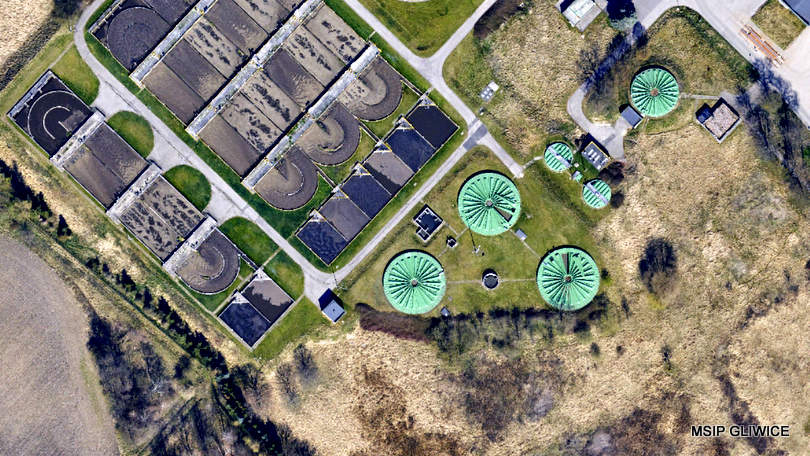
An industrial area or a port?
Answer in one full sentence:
The area seen from above is an industrial area.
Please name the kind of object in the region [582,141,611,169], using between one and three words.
building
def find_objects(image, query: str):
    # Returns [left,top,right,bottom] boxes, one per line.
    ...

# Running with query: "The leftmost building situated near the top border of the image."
[555,0,608,32]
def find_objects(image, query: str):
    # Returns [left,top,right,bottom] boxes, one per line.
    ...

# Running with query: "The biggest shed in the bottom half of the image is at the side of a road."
[320,300,347,325]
